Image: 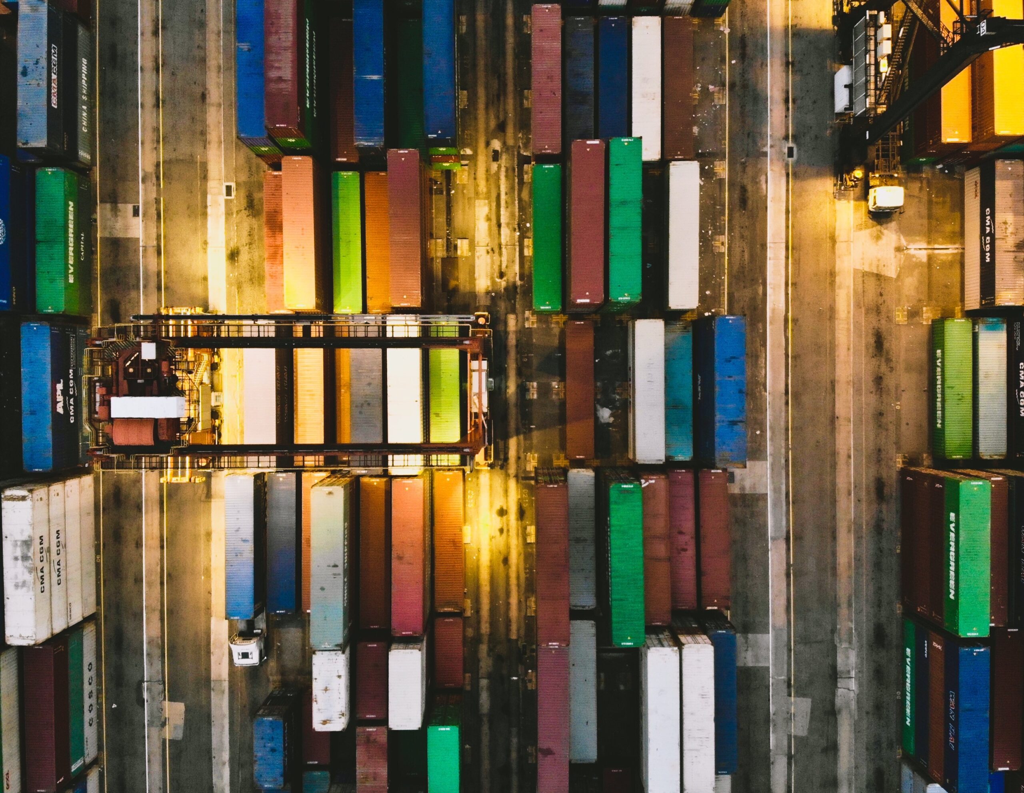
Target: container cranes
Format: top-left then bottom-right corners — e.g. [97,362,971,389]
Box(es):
[828,0,1024,199]
[76,306,503,486]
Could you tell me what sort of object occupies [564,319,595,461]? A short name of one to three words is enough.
shipping container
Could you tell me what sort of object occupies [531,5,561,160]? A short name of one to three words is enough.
shipping container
